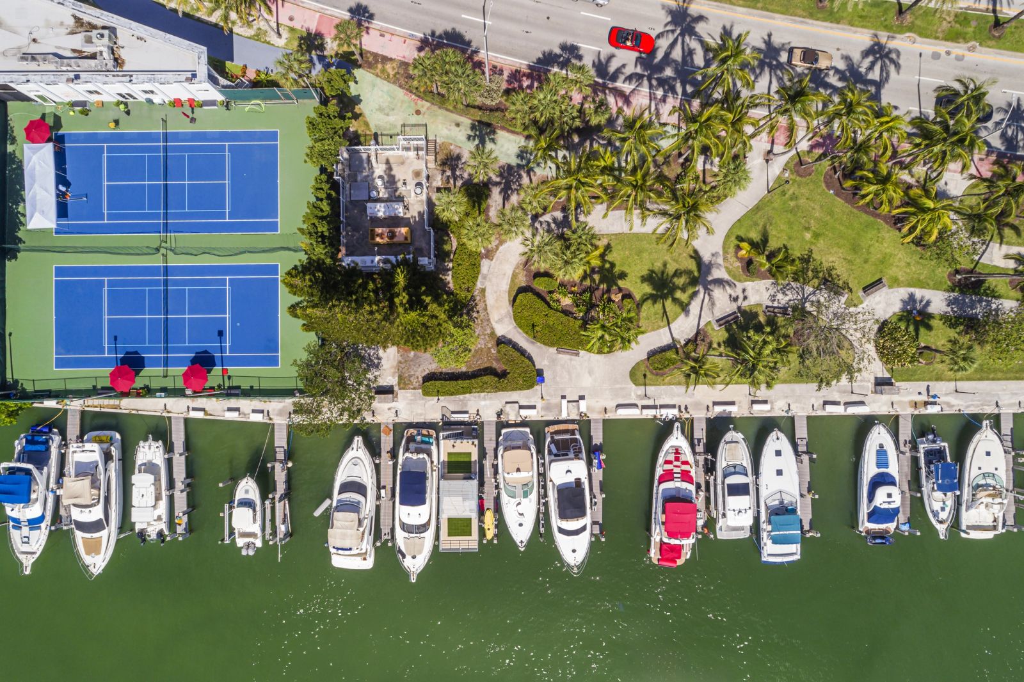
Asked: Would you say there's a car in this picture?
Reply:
Yes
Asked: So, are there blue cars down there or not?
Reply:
No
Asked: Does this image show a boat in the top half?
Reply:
No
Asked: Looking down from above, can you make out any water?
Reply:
Yes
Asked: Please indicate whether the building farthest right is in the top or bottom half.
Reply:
top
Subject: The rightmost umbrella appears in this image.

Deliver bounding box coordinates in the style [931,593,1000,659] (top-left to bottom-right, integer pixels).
[183,364,209,390]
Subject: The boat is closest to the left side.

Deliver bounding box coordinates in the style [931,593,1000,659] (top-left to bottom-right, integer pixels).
[0,424,61,573]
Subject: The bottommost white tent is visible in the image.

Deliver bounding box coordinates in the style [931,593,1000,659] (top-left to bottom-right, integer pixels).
[24,142,73,233]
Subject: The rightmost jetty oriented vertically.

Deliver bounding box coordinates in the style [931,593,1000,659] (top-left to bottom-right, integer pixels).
[998,413,1016,525]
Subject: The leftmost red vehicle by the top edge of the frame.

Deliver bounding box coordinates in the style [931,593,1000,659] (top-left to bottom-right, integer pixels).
[607,27,654,56]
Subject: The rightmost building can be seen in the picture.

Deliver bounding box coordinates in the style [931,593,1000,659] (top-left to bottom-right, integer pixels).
[333,135,434,271]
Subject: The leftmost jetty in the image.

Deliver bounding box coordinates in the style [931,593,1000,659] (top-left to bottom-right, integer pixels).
[59,408,83,525]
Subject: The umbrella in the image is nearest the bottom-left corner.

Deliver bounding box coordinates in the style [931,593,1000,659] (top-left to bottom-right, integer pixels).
[110,365,139,391]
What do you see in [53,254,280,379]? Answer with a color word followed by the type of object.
blue tennis court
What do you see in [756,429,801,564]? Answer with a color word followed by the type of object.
white boat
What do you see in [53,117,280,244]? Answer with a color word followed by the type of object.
blue tennis court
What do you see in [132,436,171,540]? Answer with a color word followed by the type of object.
white boat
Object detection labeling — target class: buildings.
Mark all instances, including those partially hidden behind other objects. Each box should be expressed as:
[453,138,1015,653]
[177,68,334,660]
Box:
[333,135,434,271]
[0,0,228,110]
